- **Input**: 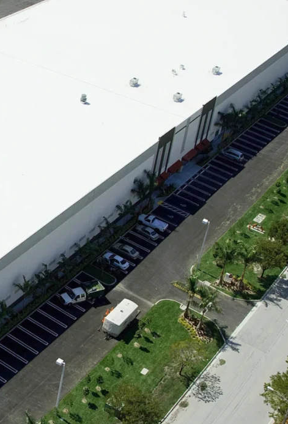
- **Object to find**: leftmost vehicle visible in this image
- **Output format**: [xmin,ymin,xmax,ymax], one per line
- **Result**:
[64,276,112,304]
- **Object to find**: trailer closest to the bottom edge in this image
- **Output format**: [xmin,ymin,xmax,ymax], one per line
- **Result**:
[105,299,140,338]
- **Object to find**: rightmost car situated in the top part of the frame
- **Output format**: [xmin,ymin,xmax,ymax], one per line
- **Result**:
[221,148,246,161]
